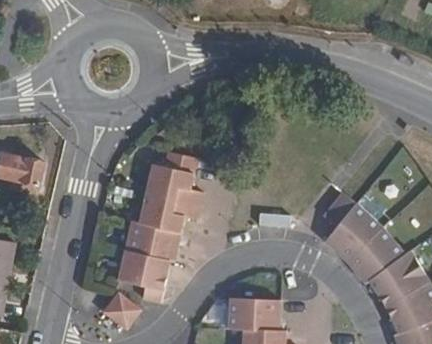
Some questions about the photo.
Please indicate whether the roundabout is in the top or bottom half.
top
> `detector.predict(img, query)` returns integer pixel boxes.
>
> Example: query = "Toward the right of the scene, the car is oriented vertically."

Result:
[286,268,298,290]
